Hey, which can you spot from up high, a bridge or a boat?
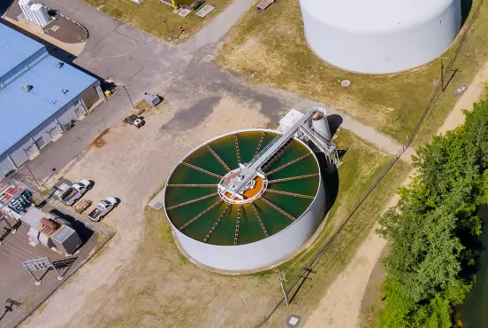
bridge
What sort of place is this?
industrial area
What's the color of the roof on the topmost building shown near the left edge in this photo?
blue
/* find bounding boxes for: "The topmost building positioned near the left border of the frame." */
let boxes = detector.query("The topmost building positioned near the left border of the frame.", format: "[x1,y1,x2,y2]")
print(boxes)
[0,24,104,179]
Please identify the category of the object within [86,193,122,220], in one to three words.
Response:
truck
